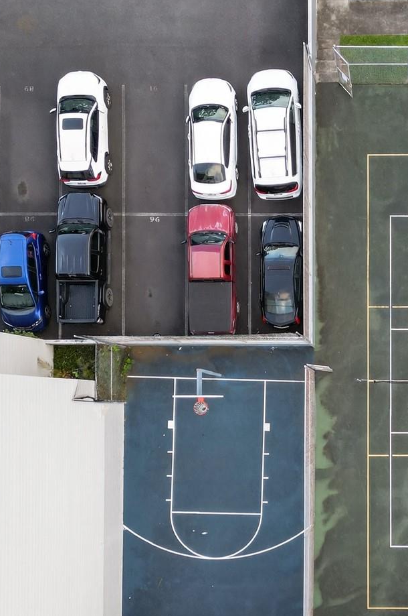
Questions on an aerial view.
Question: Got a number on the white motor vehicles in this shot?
3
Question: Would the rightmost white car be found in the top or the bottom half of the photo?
top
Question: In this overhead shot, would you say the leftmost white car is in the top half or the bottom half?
top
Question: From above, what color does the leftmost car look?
blue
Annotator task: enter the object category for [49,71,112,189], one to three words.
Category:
car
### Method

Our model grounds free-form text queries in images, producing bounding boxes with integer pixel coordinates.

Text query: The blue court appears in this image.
[121,345,316,616]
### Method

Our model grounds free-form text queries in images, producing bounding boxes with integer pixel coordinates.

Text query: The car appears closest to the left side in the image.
[0,230,51,334]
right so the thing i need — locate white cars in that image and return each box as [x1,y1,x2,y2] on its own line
[49,71,112,189]
[182,78,239,202]
[243,69,300,201]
